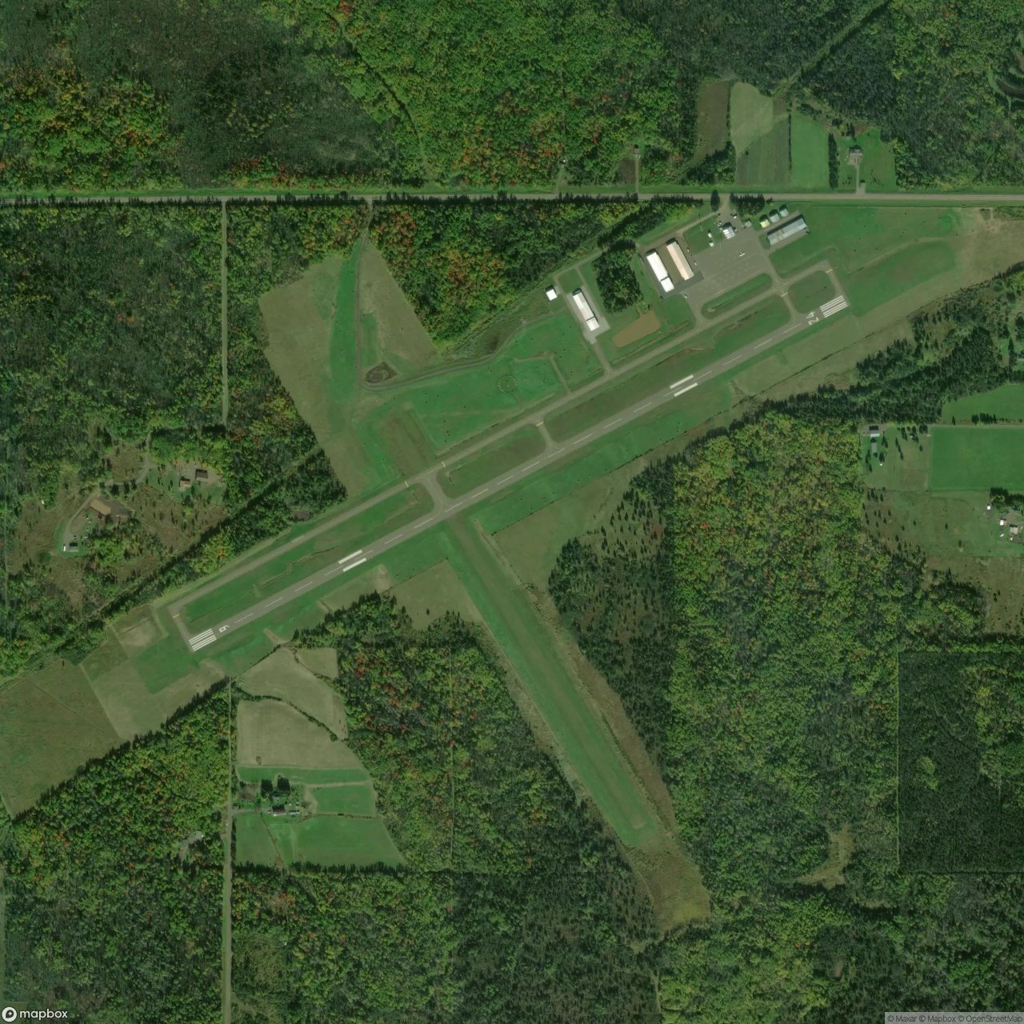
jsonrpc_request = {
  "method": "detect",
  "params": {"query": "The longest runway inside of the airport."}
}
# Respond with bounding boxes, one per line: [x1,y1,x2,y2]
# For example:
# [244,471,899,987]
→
[186,294,850,653]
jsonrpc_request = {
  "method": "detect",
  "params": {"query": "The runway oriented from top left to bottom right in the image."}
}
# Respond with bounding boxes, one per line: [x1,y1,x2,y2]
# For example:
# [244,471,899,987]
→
[439,506,657,848]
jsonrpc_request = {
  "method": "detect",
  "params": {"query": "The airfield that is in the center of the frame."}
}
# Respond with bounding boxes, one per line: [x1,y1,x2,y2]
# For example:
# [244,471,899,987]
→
[166,199,850,848]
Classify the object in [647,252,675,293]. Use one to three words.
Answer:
hangar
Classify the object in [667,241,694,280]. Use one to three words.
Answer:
hangar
